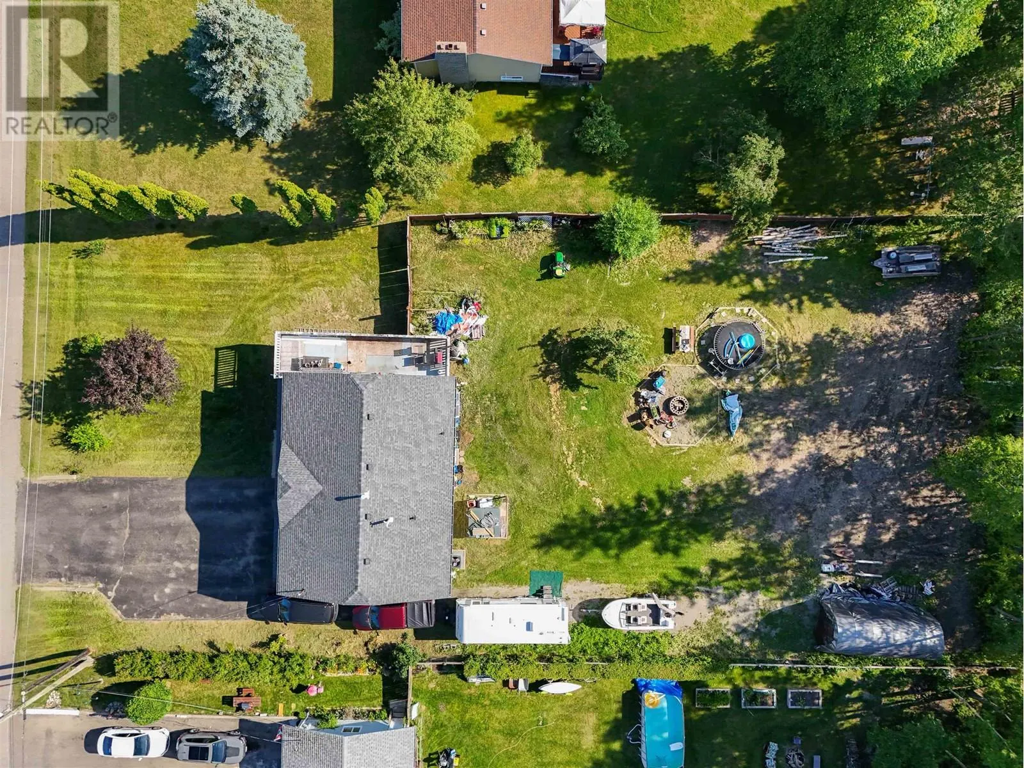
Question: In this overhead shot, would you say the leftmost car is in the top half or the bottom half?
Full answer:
You can find the leftmost car in the bottom half.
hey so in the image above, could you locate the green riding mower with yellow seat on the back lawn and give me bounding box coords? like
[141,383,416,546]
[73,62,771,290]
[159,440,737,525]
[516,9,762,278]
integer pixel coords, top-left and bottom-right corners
[551,250,571,278]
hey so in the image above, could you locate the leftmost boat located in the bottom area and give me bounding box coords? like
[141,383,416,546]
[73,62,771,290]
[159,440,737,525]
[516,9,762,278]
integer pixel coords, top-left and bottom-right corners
[537,678,581,695]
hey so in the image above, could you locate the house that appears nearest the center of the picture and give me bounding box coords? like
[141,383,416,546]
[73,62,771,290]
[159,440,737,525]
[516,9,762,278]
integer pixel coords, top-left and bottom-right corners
[274,373,459,608]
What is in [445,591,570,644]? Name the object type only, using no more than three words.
camper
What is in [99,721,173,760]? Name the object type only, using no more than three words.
car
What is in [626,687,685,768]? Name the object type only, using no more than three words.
swimming pool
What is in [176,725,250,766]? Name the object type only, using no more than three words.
car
